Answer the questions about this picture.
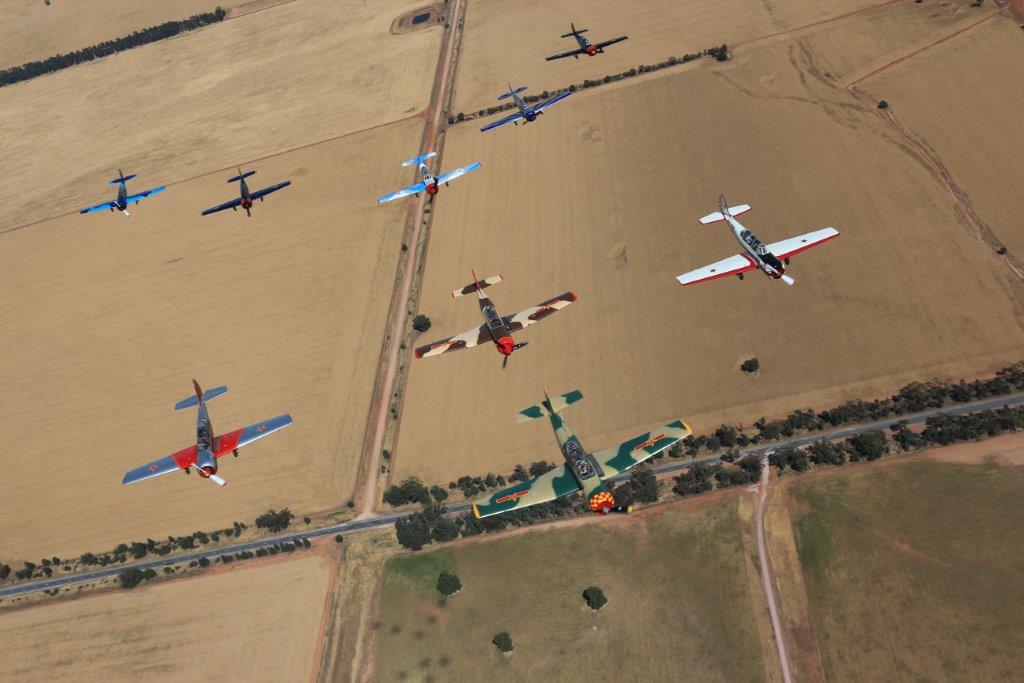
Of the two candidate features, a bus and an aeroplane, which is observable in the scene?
aeroplane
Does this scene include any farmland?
Yes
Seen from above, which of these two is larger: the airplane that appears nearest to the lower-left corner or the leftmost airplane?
the airplane that appears nearest to the lower-left corner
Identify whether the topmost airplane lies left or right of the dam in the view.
right of it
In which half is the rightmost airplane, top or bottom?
top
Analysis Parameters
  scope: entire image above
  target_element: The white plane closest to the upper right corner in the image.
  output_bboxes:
[677,192,841,285]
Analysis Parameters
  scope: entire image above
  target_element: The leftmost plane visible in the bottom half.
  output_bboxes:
[121,376,291,485]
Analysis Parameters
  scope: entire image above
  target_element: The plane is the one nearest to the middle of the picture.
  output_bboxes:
[415,268,577,370]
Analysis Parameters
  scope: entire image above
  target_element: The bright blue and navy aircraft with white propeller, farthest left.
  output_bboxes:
[80,168,165,215]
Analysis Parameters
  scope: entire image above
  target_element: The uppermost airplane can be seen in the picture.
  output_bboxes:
[545,22,628,61]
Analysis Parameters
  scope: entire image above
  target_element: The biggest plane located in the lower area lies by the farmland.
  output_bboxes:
[473,381,692,520]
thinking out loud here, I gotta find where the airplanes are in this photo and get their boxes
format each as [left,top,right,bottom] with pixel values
[121,376,291,485]
[545,22,628,61]
[80,168,165,215]
[480,81,571,131]
[201,165,291,215]
[473,381,692,520]
[415,268,577,370]
[677,192,841,285]
[378,148,480,202]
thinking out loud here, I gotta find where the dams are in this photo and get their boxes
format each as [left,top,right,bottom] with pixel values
[391,2,447,34]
